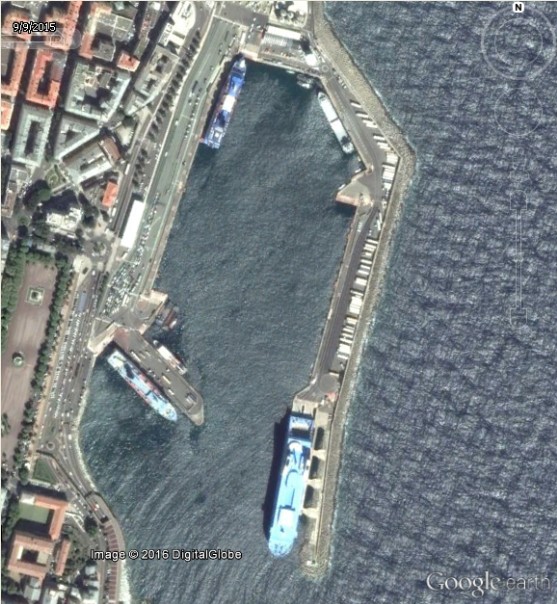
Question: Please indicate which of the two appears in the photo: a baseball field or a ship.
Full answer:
Looking from above, you can make out a ship.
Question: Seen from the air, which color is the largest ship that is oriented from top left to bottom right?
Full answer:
The color of the largest ship that is oriented from top left to bottom right is white.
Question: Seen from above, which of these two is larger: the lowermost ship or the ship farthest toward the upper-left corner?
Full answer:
The ship farthest toward the upper-left corner is smaller than the lowermost ship.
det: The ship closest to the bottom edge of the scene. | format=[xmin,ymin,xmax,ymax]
[270,415,314,559]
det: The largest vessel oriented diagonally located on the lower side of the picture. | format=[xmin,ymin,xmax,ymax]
[107,351,176,422]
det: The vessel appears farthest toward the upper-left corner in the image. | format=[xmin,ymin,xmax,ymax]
[204,57,244,150]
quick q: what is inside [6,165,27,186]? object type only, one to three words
house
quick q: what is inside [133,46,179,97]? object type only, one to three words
building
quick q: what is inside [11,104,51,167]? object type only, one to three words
building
